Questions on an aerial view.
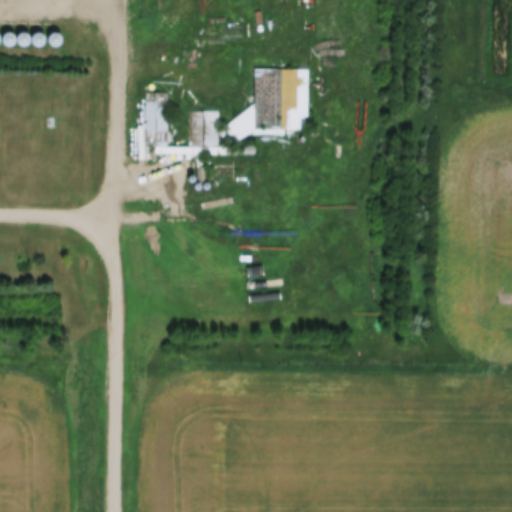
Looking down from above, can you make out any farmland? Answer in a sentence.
Yes, there's farmland in this view.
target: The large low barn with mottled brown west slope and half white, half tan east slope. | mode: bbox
[227,68,310,140]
